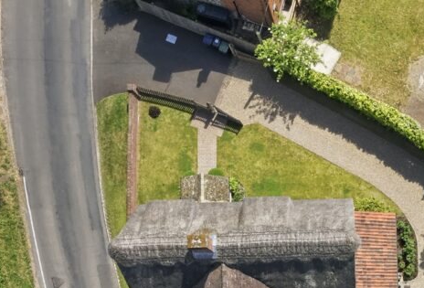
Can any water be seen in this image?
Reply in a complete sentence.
No, there's no water in this view.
